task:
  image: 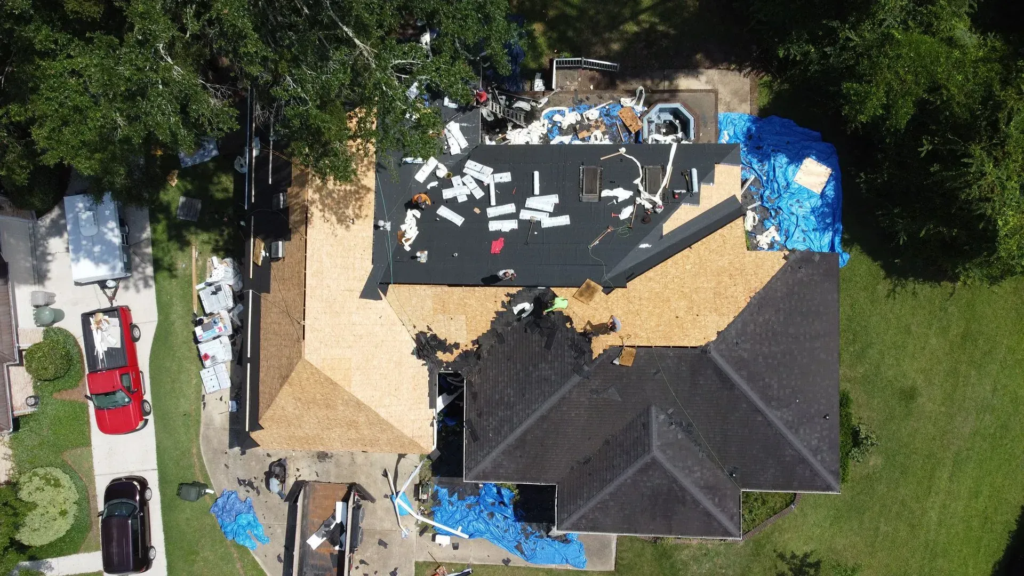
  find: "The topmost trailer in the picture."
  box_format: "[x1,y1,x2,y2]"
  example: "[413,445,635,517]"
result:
[64,192,138,300]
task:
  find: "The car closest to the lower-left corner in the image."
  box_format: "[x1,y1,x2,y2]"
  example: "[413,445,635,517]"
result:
[96,474,156,574]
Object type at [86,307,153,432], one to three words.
truck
